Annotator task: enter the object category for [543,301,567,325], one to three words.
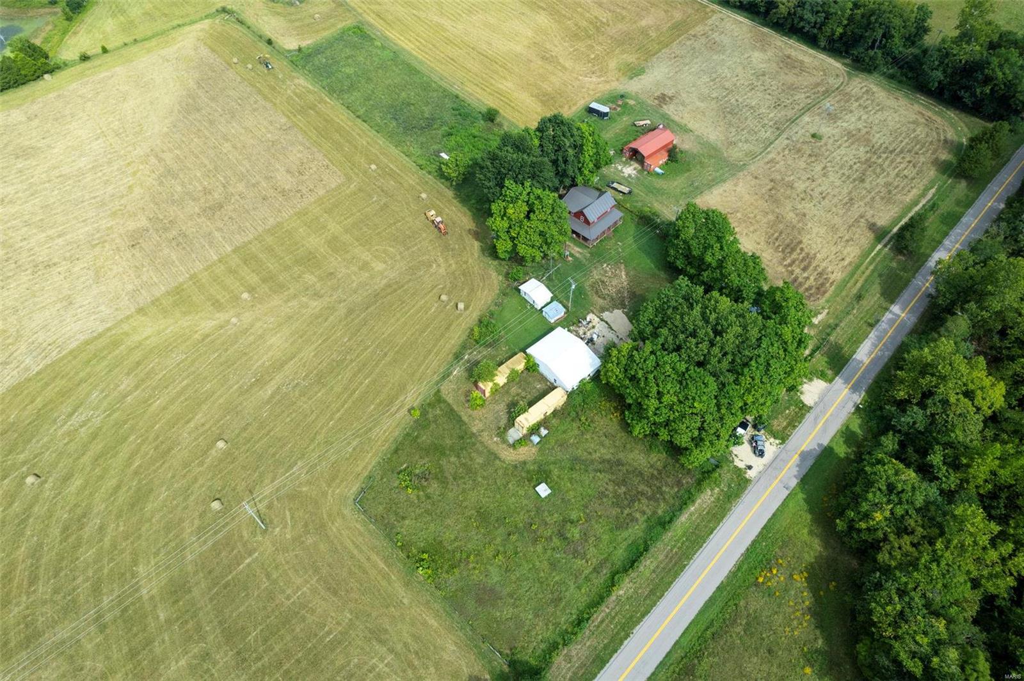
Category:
shed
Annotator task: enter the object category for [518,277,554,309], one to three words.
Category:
shed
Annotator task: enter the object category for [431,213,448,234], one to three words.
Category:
work vehicle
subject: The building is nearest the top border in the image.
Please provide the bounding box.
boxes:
[624,130,675,173]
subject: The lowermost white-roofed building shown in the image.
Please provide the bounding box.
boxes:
[524,327,602,399]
